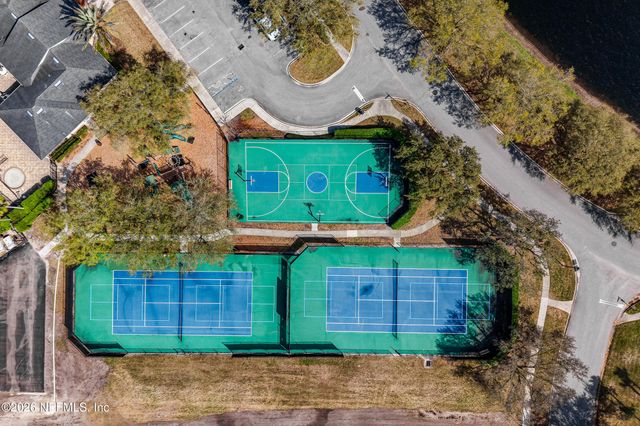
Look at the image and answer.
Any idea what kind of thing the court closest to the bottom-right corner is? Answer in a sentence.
I'd say the court closest to the bottom-right corner is a tennis court.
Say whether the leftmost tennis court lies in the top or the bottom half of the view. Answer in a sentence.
You can find the leftmost tennis court in the bottom half.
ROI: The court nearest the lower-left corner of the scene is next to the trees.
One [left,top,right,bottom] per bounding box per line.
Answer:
[74,253,291,353]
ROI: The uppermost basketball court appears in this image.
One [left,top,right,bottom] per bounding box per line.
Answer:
[229,139,406,222]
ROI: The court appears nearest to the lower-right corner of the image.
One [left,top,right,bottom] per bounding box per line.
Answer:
[291,246,504,353]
